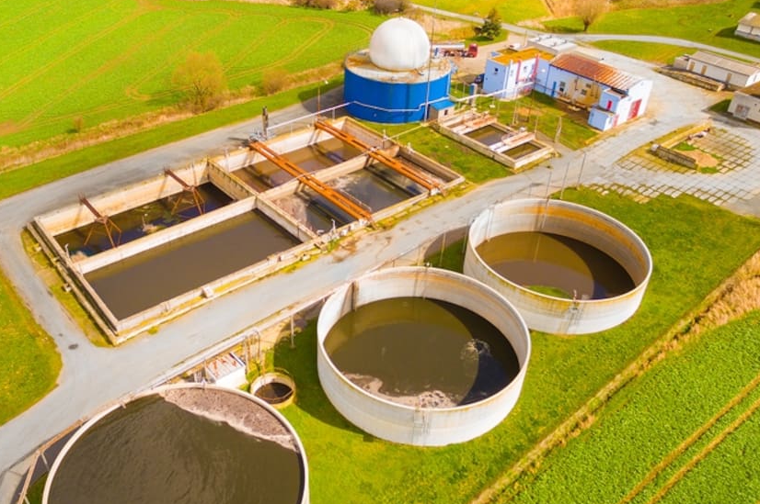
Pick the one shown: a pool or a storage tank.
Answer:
storage tank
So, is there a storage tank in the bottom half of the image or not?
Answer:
Yes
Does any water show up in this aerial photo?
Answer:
Yes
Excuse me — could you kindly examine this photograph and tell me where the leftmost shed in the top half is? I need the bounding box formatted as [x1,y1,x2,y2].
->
[430,100,453,122]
